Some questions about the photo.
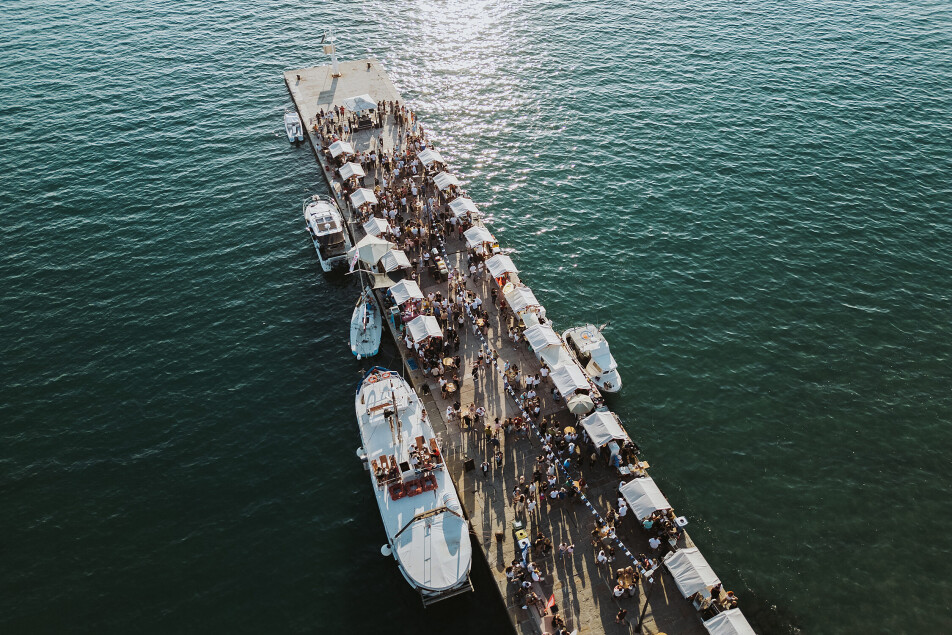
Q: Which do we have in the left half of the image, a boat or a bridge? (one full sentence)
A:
The feature located in the left half of the image is a boat.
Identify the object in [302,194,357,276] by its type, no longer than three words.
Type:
boat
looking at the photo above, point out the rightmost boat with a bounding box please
[563,311,621,399]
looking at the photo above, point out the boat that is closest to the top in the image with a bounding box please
[279,107,306,149]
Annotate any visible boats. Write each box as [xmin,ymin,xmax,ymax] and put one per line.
[351,360,475,613]
[342,196,381,364]
[563,311,621,399]
[302,194,357,276]
[279,107,306,149]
